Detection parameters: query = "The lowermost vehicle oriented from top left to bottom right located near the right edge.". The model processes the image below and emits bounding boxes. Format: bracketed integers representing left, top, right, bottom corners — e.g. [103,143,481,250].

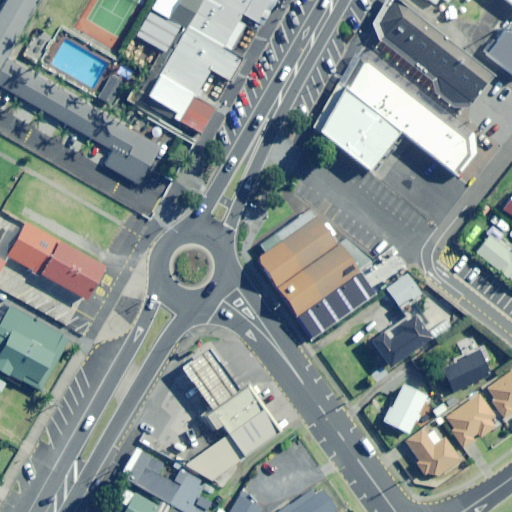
[496,218,510,234]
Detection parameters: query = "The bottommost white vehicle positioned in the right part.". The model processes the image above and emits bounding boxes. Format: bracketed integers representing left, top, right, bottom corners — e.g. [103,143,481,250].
[357,436,376,458]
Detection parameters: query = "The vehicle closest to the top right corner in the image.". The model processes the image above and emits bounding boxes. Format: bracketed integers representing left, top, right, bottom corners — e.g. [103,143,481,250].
[444,6,456,21]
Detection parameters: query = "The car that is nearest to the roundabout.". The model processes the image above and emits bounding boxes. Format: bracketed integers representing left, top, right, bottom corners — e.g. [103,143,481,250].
[201,282,216,298]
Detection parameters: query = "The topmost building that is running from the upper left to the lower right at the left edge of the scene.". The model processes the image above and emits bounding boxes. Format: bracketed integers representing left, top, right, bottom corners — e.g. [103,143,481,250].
[0,56,158,184]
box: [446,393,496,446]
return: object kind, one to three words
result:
house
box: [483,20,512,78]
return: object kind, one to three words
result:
building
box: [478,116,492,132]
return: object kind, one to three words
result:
vehicle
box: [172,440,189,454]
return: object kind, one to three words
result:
vehicle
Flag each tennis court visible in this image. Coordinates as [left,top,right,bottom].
[73,0,142,50]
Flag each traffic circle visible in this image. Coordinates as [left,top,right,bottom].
[170,244,215,289]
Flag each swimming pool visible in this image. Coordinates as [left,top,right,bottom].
[42,29,116,98]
